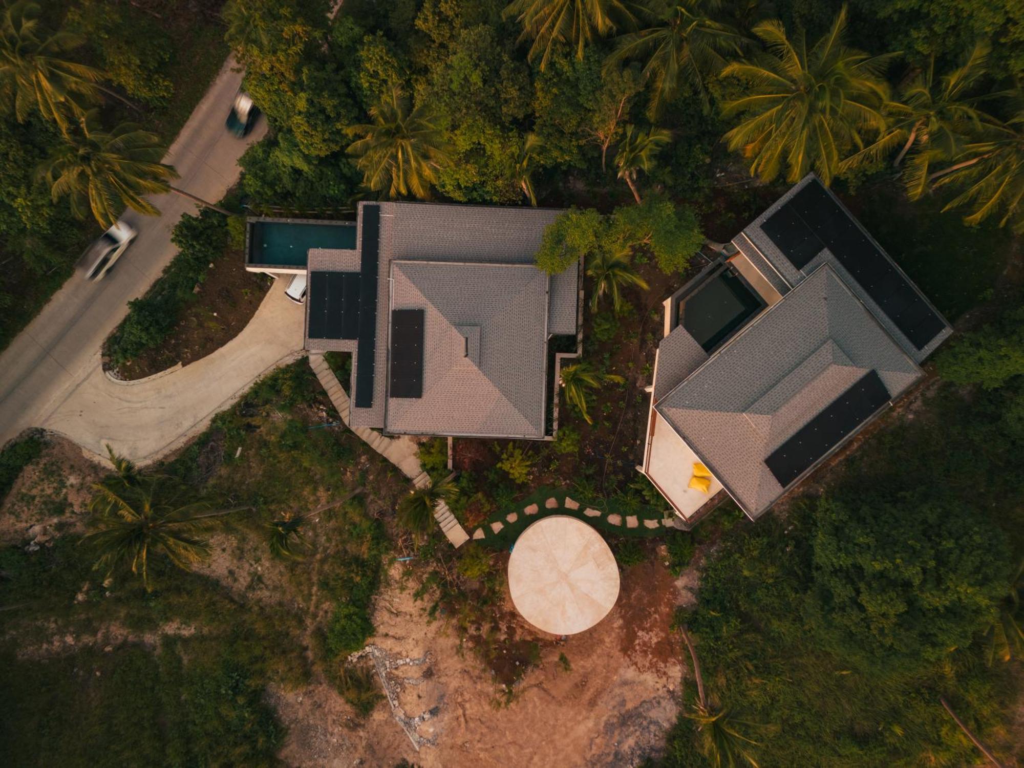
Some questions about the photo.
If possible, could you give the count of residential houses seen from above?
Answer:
2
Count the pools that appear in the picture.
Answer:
two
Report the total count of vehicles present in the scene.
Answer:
three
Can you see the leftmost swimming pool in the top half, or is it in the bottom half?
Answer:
top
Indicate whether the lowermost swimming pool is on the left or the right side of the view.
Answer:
right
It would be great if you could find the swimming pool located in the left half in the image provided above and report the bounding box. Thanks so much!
[246,218,357,286]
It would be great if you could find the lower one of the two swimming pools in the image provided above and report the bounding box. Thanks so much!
[661,258,769,356]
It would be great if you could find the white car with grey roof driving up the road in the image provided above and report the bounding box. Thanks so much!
[76,223,136,285]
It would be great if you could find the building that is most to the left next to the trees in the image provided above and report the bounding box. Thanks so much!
[303,199,586,444]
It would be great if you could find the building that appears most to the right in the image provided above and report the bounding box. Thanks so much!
[636,169,957,528]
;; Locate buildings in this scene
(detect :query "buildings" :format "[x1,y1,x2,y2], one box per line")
[303,199,586,444]
[636,169,957,528]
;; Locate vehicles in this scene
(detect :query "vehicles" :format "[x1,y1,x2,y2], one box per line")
[223,87,265,145]
[279,274,308,310]
[76,223,136,285]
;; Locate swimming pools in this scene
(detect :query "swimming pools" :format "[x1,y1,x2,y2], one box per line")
[246,218,357,286]
[661,258,769,356]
